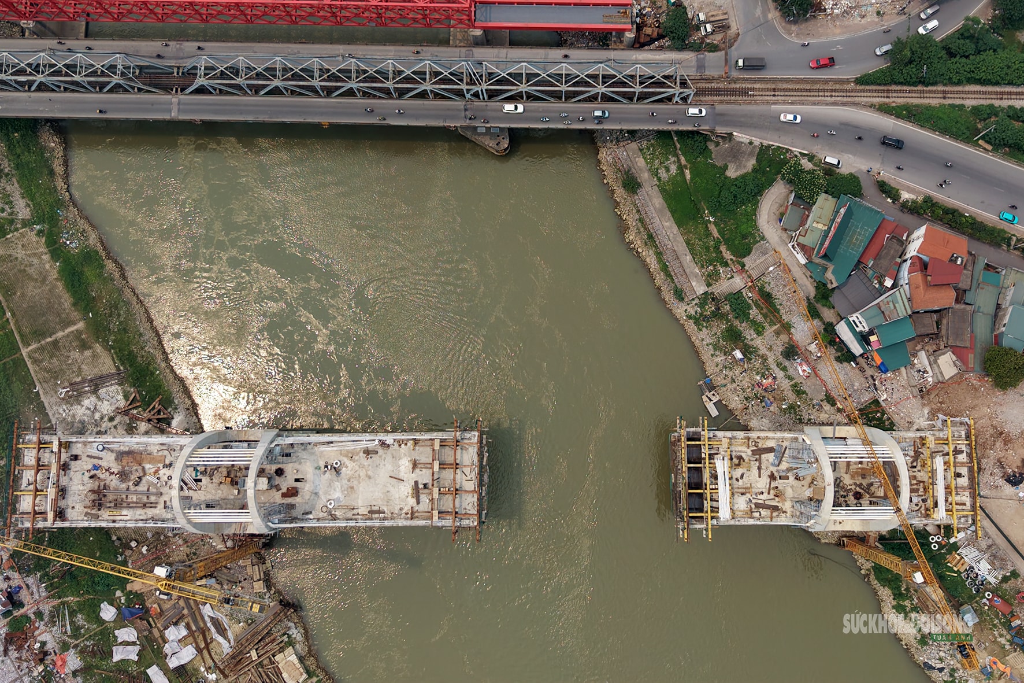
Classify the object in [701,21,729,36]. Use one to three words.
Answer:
vehicle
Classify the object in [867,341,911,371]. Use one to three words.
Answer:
house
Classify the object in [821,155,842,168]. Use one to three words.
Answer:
vehicle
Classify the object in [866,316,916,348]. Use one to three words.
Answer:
house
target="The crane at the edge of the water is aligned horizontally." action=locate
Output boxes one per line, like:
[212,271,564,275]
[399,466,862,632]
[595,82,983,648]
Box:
[0,533,267,624]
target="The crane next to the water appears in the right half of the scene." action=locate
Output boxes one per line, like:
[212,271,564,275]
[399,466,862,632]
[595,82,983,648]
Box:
[772,250,981,683]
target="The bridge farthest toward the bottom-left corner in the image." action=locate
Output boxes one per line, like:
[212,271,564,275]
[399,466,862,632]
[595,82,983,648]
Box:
[3,419,490,543]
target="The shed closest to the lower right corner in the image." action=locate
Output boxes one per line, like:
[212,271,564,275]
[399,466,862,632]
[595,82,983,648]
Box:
[952,603,979,626]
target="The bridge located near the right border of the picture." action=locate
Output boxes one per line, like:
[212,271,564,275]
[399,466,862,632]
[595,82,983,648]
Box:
[668,417,984,541]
